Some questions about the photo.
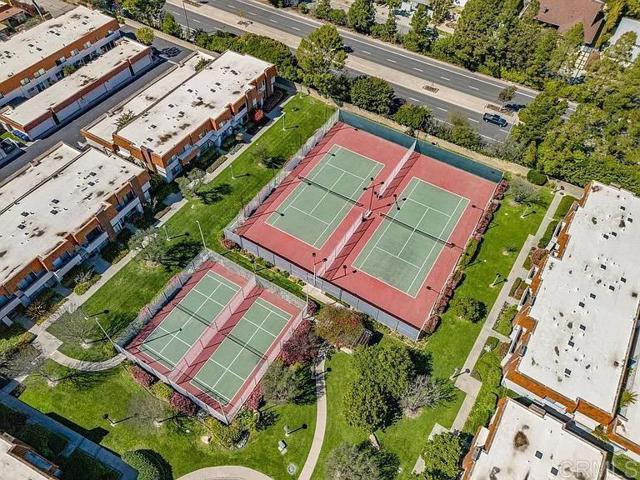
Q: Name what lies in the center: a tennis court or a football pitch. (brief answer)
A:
tennis court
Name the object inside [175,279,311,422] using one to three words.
tennis court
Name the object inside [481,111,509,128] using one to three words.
vehicle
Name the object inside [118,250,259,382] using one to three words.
tennis court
